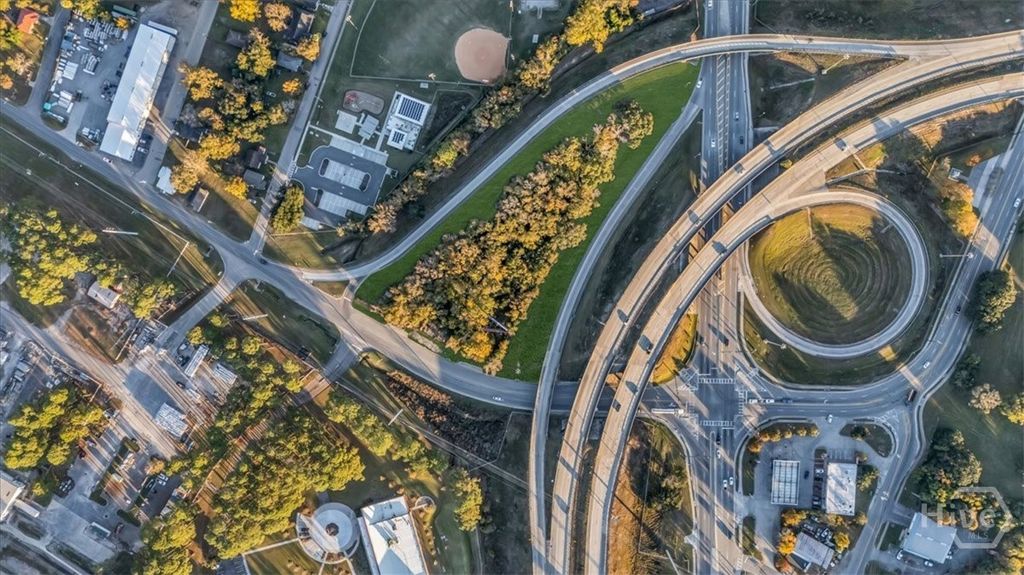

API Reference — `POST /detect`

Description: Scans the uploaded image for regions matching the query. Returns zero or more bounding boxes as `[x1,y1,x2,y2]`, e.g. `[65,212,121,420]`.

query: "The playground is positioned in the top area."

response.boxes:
[344,90,384,113]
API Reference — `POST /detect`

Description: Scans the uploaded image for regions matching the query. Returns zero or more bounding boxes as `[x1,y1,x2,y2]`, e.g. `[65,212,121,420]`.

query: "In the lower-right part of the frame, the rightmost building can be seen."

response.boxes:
[899,511,957,564]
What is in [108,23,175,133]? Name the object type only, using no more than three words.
building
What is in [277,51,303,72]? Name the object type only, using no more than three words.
house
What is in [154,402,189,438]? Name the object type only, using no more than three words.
shed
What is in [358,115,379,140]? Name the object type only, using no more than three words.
building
